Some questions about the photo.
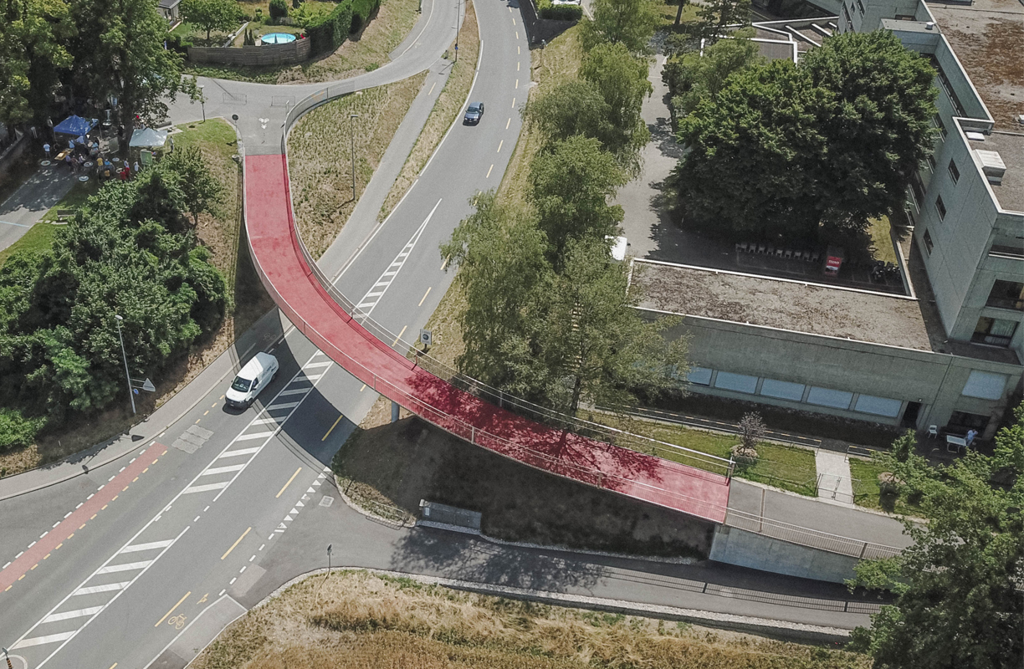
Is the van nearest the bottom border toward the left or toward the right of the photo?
left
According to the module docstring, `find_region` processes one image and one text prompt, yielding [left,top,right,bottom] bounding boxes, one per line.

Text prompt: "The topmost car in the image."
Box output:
[464,99,485,123]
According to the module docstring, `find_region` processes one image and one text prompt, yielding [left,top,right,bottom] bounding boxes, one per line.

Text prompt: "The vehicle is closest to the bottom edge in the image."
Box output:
[220,344,282,408]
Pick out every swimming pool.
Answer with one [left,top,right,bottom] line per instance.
[258,32,299,48]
